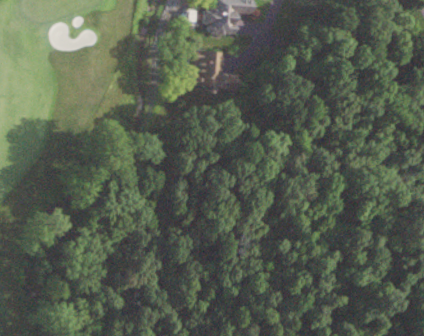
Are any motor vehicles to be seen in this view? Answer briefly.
No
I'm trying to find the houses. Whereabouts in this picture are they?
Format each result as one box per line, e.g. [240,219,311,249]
[198,48,238,90]
[200,0,256,38]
